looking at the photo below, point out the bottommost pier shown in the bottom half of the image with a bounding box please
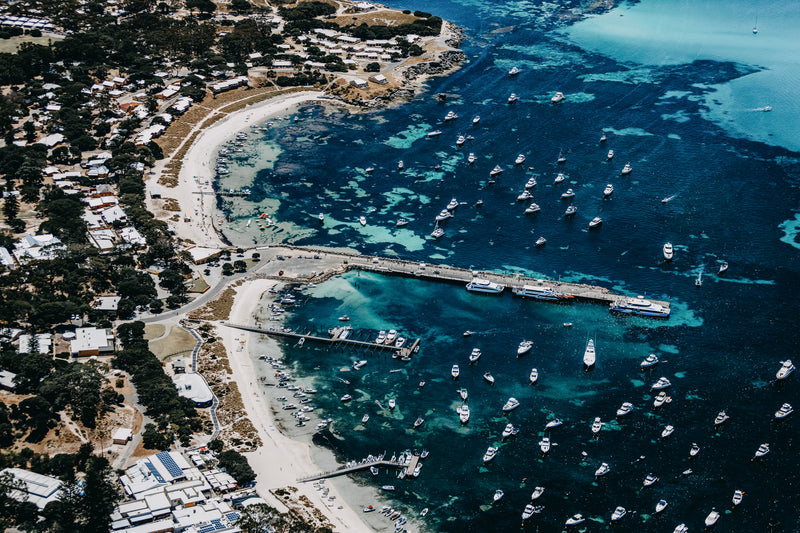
[298,454,420,484]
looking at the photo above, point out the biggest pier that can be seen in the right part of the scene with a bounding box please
[338,256,669,306]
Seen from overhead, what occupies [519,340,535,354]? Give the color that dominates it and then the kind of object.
white boat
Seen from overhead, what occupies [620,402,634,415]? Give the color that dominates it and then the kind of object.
white boat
